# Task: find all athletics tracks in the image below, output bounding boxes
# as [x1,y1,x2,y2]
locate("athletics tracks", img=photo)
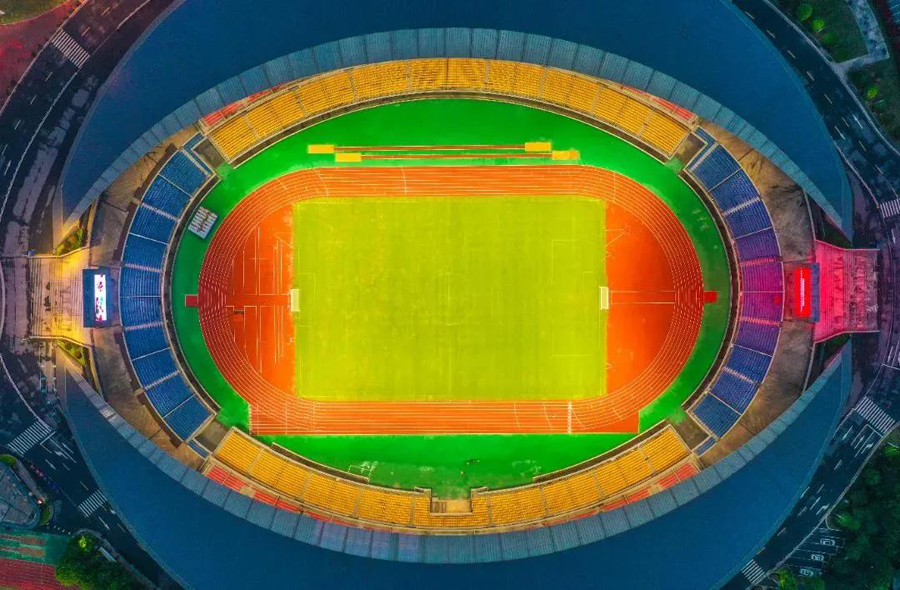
[186,166,716,434]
